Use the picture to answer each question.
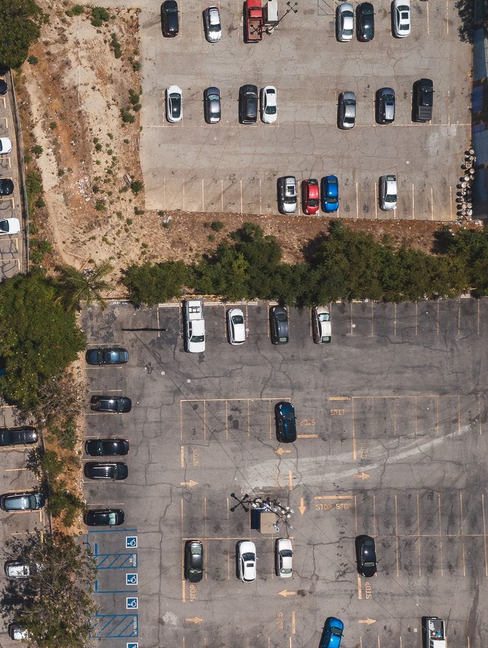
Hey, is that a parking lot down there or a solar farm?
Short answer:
parking lot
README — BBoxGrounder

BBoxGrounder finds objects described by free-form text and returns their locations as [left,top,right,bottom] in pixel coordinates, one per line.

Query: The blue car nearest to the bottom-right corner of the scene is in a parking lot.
[320,617,343,648]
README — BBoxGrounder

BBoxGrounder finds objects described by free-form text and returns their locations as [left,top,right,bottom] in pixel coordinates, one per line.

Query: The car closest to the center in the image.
[228,308,246,345]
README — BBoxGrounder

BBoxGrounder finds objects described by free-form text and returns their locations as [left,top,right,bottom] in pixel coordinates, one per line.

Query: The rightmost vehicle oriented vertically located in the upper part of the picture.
[413,79,435,124]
